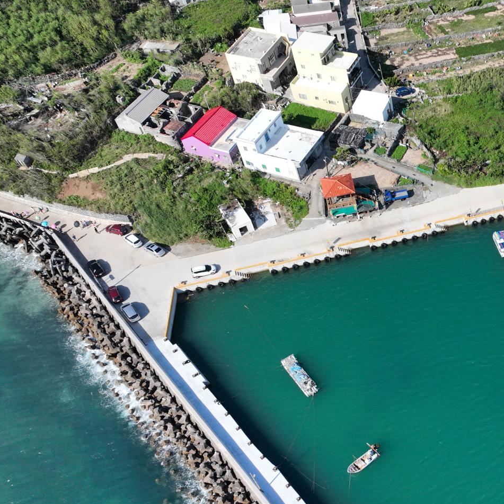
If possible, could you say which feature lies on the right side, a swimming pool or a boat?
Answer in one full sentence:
The one visible on the right side is a boat.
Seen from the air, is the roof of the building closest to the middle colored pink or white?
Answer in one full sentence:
In this view, the roof of the building closest to the middle is white.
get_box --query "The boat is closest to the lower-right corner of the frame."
[348,439,381,471]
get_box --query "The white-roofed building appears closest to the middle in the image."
[218,200,260,247]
